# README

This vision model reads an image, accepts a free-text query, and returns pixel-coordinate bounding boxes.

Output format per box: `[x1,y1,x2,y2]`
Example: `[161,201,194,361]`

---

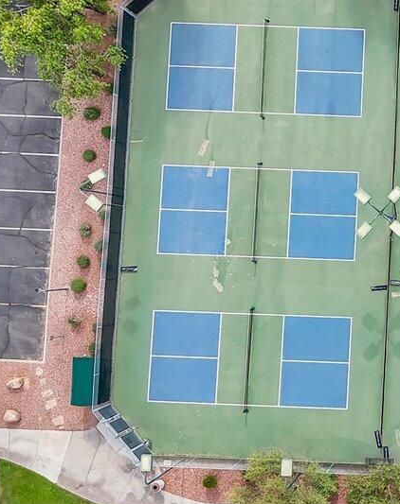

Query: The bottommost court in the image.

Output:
[148,310,352,411]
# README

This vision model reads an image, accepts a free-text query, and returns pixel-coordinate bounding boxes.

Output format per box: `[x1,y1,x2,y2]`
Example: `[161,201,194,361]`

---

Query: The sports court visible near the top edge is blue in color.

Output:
[166,21,366,117]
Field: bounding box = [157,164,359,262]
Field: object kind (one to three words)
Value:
sports court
